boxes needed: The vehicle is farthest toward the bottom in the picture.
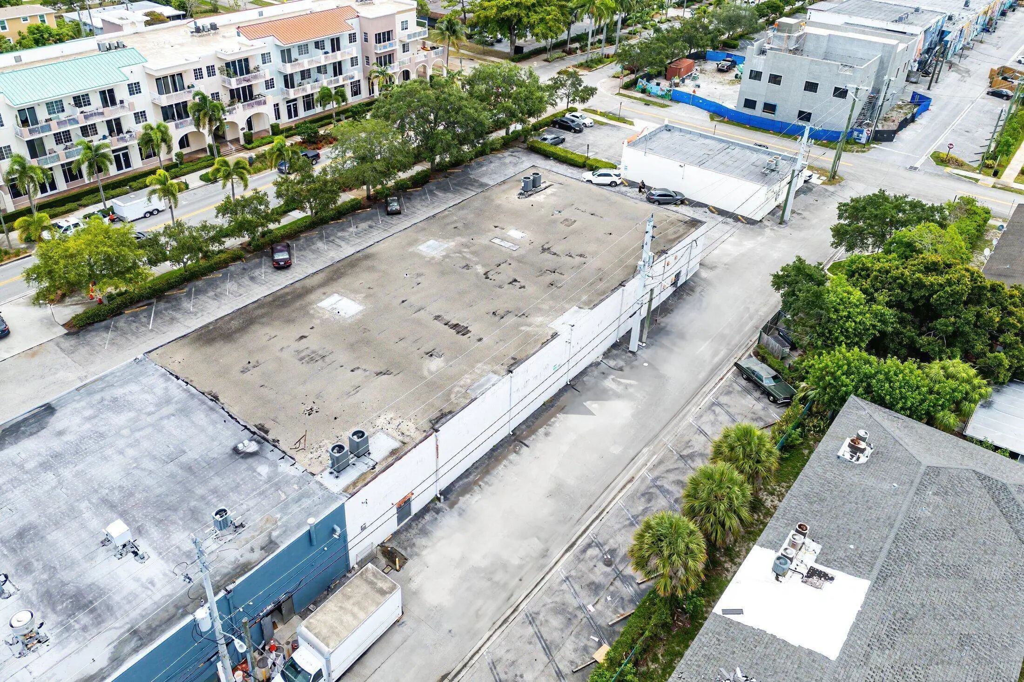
[273,565,404,682]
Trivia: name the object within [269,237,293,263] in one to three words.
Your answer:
car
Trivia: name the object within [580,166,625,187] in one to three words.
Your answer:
car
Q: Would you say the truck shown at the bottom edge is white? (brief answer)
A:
Yes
